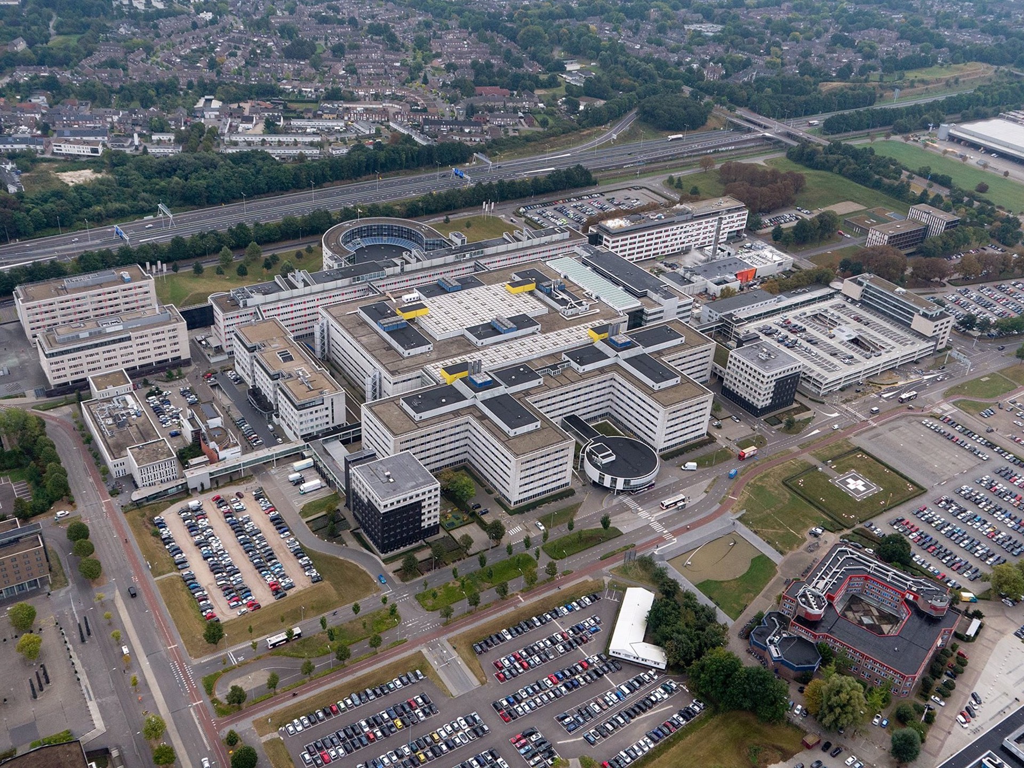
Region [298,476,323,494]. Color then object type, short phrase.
white vehicle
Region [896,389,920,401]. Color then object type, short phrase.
white vehicle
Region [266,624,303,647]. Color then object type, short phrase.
white bus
